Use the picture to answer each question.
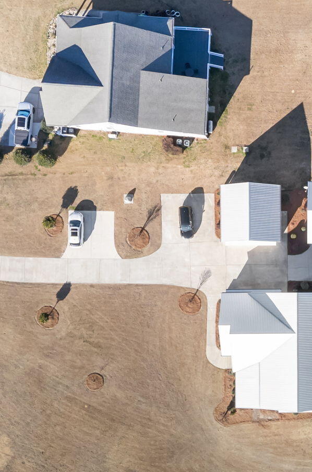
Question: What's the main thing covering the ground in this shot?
grass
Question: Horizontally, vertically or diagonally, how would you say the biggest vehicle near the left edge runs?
vertically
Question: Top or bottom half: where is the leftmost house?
top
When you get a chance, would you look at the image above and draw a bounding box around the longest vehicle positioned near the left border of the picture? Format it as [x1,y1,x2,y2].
[15,103,34,147]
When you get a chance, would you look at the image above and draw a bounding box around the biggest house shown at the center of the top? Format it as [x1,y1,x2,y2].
[42,10,223,138]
